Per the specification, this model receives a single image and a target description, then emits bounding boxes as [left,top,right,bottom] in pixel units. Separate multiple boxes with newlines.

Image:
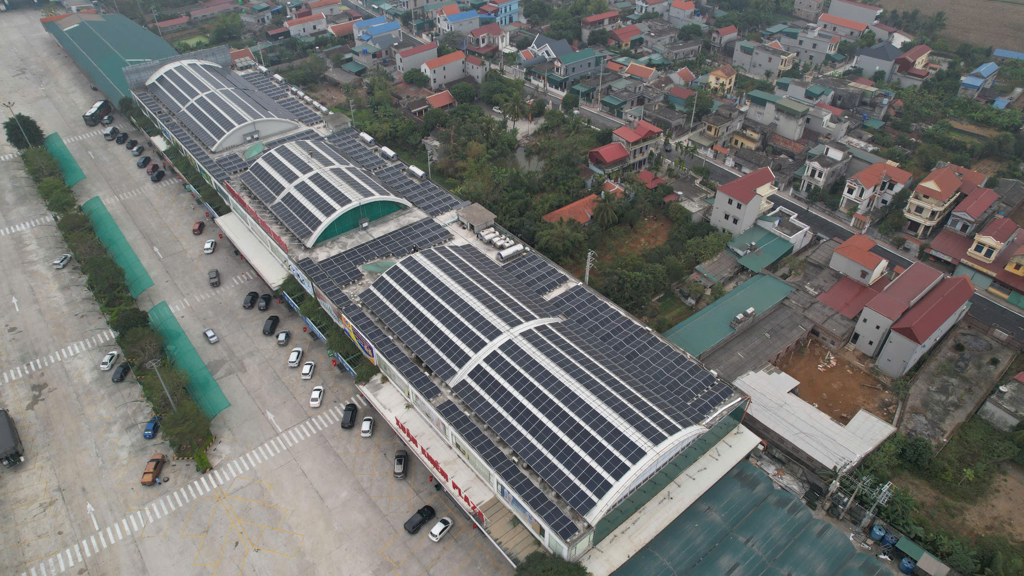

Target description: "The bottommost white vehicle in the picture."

[428,515,455,544]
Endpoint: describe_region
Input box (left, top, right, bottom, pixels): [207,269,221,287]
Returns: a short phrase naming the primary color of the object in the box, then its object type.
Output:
gray car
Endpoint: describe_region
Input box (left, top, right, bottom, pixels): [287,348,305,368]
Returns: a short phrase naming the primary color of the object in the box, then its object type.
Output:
white car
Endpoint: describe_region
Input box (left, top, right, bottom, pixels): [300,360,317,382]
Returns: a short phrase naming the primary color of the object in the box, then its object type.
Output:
white car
